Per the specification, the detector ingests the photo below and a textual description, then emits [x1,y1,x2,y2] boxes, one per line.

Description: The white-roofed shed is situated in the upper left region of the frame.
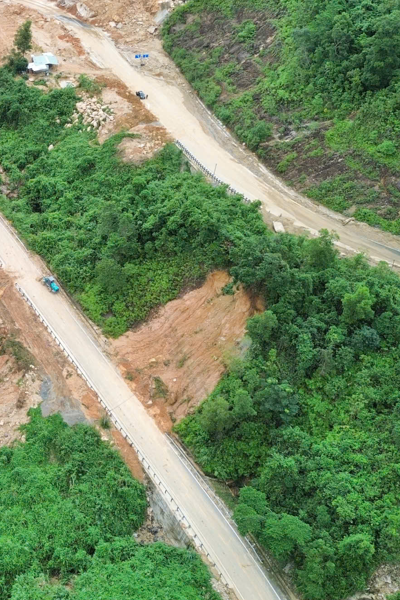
[28,52,59,73]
